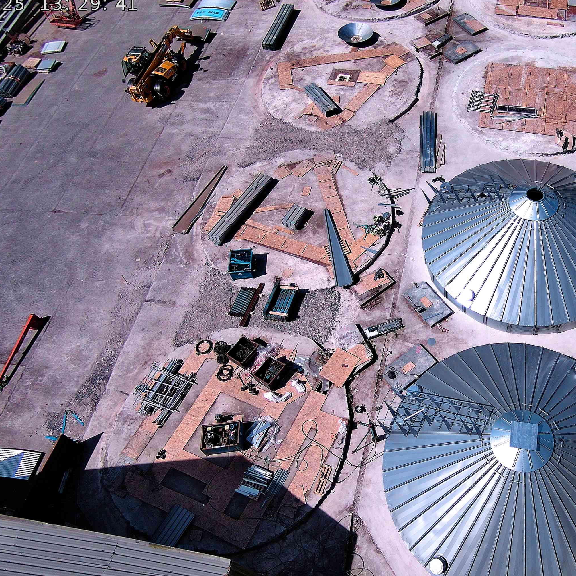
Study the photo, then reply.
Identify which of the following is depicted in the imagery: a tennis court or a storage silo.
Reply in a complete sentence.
The image shows a storage silo.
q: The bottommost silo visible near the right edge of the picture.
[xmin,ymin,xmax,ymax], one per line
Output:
[372,342,576,576]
